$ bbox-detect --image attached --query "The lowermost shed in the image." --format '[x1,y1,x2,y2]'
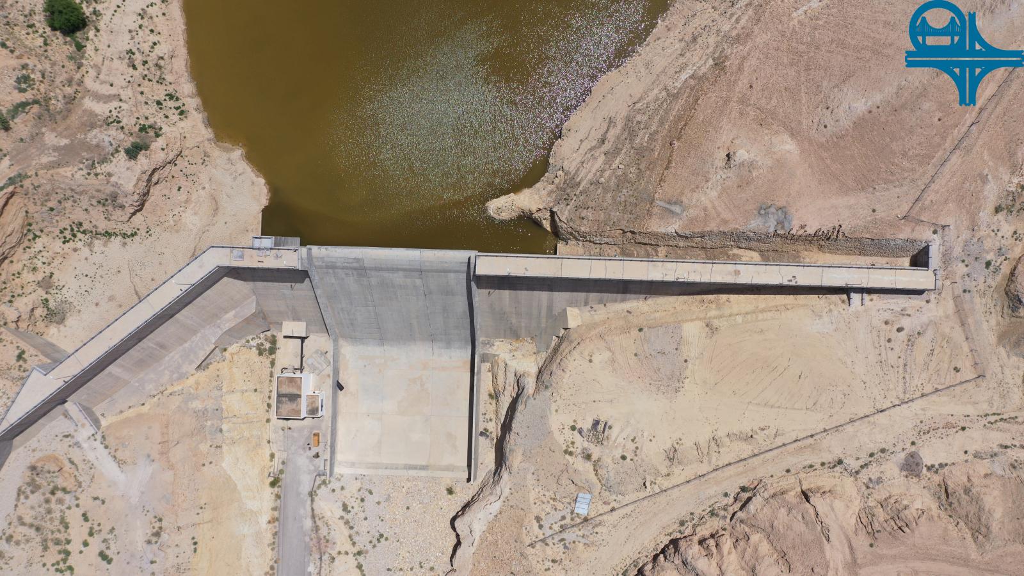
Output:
[574,491,592,513]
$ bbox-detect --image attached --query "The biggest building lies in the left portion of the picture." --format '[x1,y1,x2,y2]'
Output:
[275,371,326,419]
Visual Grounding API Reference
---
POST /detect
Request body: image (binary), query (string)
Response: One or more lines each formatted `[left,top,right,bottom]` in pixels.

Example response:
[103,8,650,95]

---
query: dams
[0,244,942,483]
